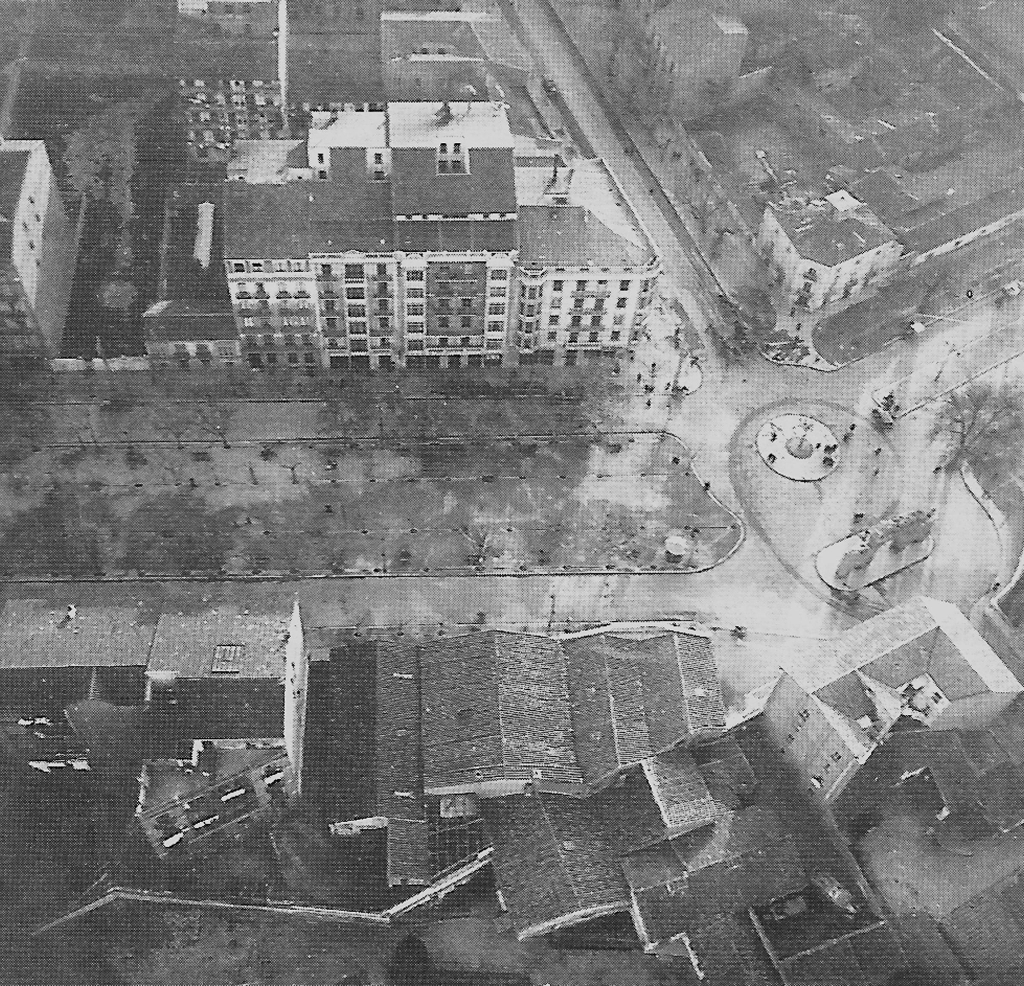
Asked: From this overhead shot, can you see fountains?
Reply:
Yes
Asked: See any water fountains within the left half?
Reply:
No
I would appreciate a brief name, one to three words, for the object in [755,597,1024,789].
building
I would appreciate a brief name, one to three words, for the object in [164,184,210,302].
building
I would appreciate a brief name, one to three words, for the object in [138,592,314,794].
house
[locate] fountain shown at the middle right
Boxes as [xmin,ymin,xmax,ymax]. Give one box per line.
[785,435,817,461]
